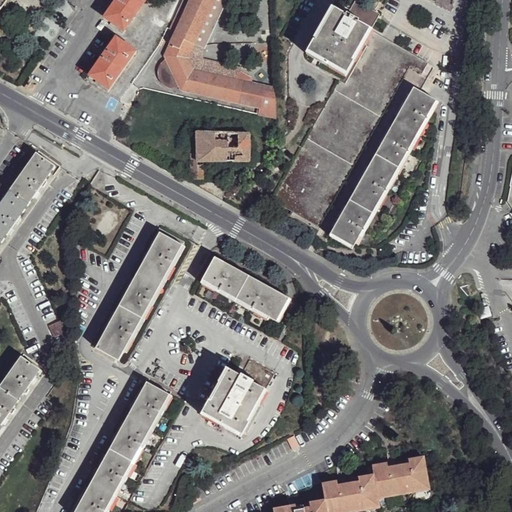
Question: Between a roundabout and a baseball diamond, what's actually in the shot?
roundabout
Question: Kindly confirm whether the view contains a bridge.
No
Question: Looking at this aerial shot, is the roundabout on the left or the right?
right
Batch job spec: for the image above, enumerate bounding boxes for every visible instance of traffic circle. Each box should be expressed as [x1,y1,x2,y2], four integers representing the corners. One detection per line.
[350,272,447,371]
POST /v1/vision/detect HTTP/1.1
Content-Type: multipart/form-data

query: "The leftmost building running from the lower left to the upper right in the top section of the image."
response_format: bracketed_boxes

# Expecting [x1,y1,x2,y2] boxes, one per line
[0,152,60,250]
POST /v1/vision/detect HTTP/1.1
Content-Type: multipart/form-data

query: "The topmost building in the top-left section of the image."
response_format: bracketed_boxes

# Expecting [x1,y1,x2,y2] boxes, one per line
[102,0,146,32]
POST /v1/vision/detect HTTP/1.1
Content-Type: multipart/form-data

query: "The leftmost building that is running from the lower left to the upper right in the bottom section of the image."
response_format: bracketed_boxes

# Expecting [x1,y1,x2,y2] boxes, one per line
[0,355,44,427]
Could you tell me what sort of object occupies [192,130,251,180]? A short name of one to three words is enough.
house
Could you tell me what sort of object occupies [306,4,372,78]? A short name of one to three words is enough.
building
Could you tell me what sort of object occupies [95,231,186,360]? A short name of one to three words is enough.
building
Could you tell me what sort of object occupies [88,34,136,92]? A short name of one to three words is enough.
house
